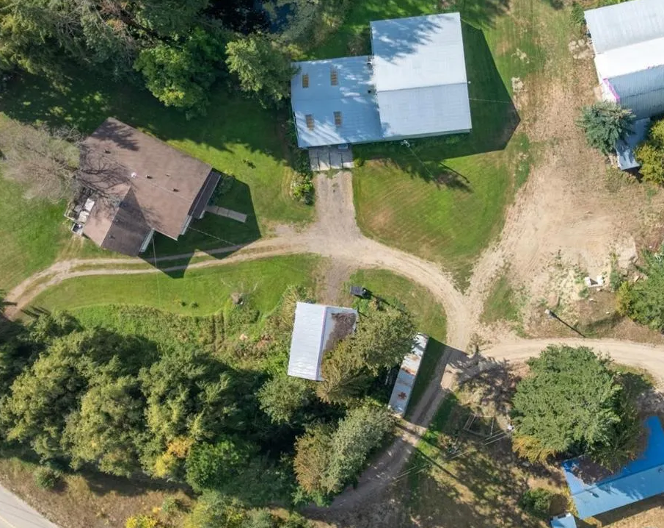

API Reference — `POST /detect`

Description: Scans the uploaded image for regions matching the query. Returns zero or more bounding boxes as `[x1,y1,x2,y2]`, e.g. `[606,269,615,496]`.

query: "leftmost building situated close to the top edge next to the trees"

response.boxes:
[291,13,471,148]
